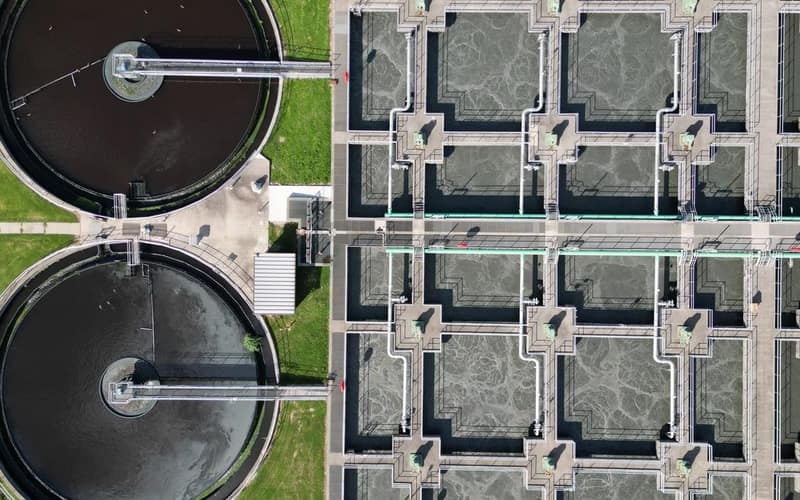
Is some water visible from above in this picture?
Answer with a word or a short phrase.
Yes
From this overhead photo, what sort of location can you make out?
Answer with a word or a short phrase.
industrial area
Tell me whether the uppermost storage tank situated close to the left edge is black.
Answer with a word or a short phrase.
Yes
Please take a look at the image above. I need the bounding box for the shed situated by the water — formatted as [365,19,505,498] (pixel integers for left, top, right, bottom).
[252,253,301,314]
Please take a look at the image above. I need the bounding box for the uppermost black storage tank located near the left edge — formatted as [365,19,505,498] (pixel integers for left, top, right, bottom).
[0,0,280,219]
